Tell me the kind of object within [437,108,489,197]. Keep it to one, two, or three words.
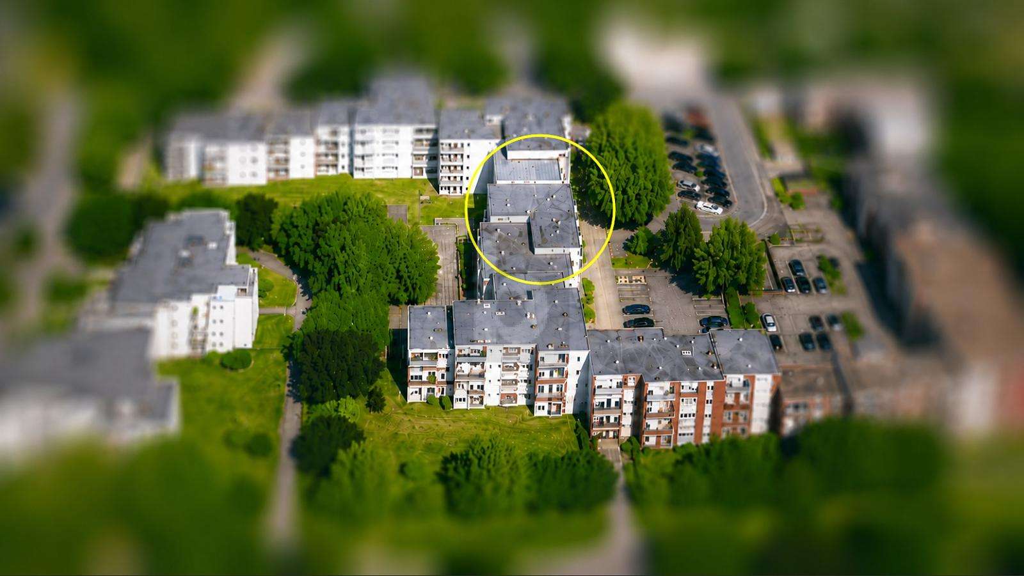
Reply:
building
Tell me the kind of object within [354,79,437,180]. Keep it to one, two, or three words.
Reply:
building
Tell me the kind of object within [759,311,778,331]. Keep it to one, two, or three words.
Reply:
car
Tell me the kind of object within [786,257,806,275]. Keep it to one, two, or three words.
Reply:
car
